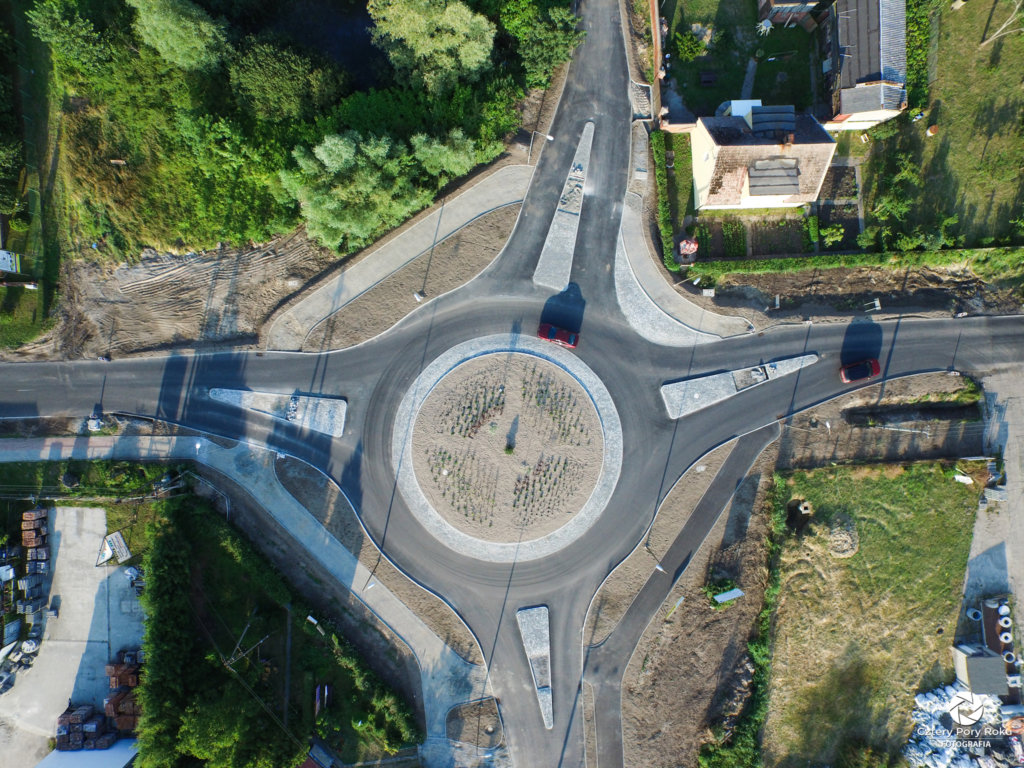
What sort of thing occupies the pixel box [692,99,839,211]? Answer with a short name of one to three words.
house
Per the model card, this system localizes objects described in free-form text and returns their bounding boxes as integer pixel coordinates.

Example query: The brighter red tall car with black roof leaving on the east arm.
[839,359,881,384]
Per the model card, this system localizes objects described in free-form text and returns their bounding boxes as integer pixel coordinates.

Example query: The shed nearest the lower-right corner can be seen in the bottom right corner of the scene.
[952,637,1009,691]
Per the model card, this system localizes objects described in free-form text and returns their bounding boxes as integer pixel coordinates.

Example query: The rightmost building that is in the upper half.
[821,0,909,135]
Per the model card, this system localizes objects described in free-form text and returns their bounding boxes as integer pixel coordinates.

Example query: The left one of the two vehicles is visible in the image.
[537,324,581,348]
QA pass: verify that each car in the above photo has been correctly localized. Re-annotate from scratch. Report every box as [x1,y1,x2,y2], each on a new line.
[839,359,881,384]
[537,324,581,348]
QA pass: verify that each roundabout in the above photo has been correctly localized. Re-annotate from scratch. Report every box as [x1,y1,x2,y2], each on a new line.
[393,333,623,563]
